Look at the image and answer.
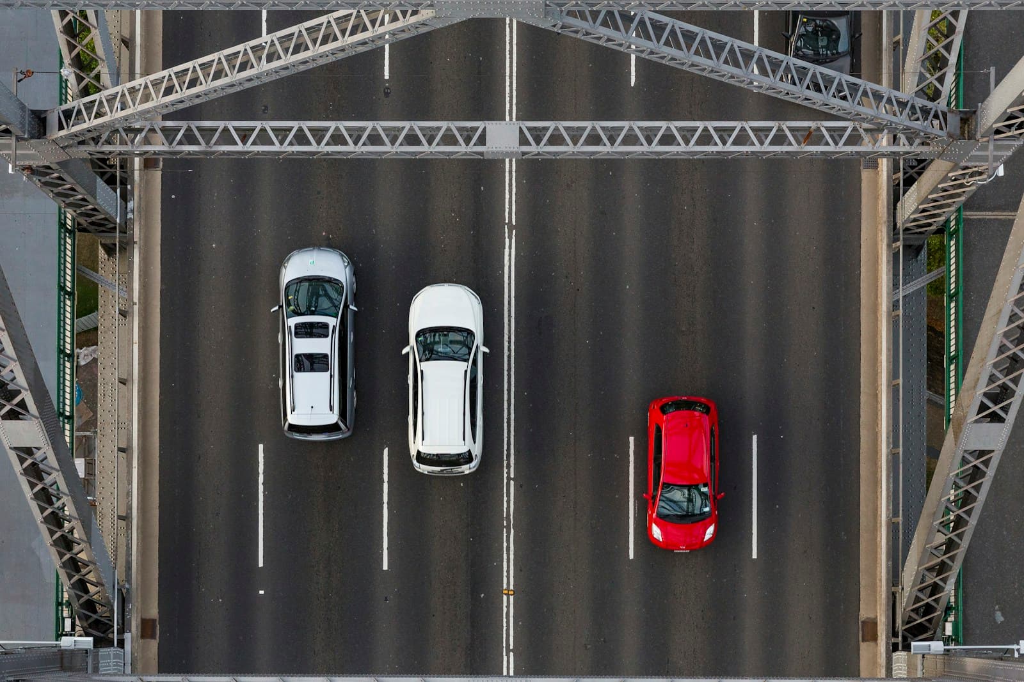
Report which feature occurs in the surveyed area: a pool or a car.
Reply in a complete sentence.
Looking from above, you can make out a car.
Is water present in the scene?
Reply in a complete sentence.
No, the picture contains no water.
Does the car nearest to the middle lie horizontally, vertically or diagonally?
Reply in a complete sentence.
In this picture, the car nearest to the middle is oriented vertically.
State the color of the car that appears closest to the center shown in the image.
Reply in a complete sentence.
The car that appears closest to the center is white.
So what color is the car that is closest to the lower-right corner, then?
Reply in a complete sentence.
The color of the car that is closest to the lower-right corner is red.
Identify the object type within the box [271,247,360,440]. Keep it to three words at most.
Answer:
car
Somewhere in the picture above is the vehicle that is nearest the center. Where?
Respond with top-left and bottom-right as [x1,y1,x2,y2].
[401,284,489,475]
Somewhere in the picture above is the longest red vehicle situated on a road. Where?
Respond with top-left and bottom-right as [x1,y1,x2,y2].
[641,396,724,551]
